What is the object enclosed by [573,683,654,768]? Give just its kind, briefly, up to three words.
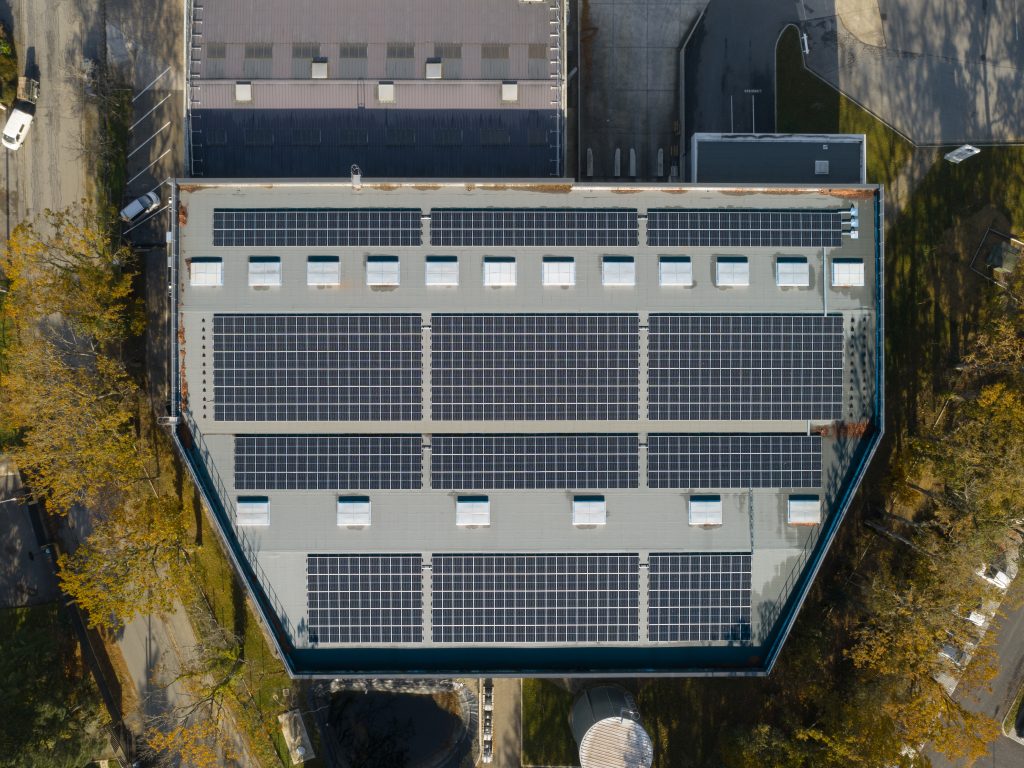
storage tank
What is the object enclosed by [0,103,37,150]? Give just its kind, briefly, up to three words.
van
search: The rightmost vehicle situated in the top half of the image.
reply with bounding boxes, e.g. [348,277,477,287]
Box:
[119,192,161,223]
